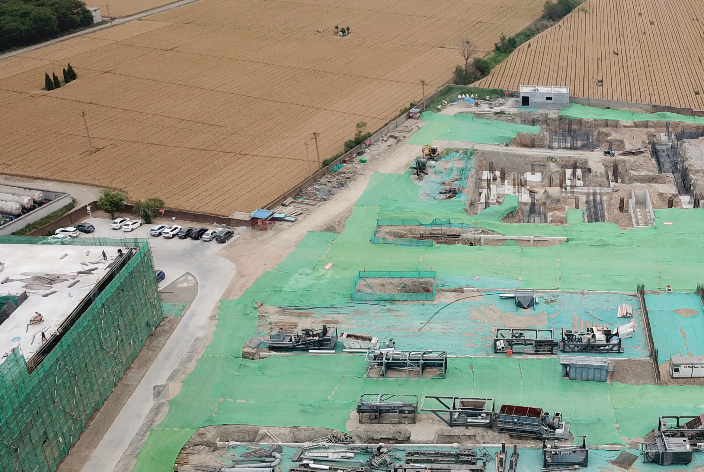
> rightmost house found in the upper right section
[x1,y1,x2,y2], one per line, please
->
[519,85,570,110]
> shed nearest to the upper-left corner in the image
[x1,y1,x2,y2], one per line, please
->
[83,5,104,26]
